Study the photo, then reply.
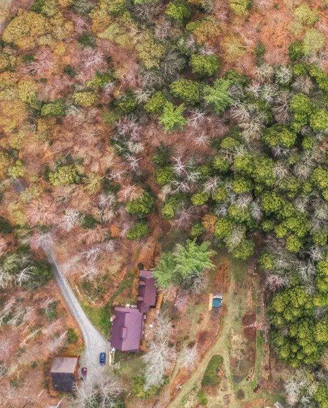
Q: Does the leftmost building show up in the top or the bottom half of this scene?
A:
bottom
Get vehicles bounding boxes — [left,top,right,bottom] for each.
[99,351,106,364]
[80,368,87,377]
